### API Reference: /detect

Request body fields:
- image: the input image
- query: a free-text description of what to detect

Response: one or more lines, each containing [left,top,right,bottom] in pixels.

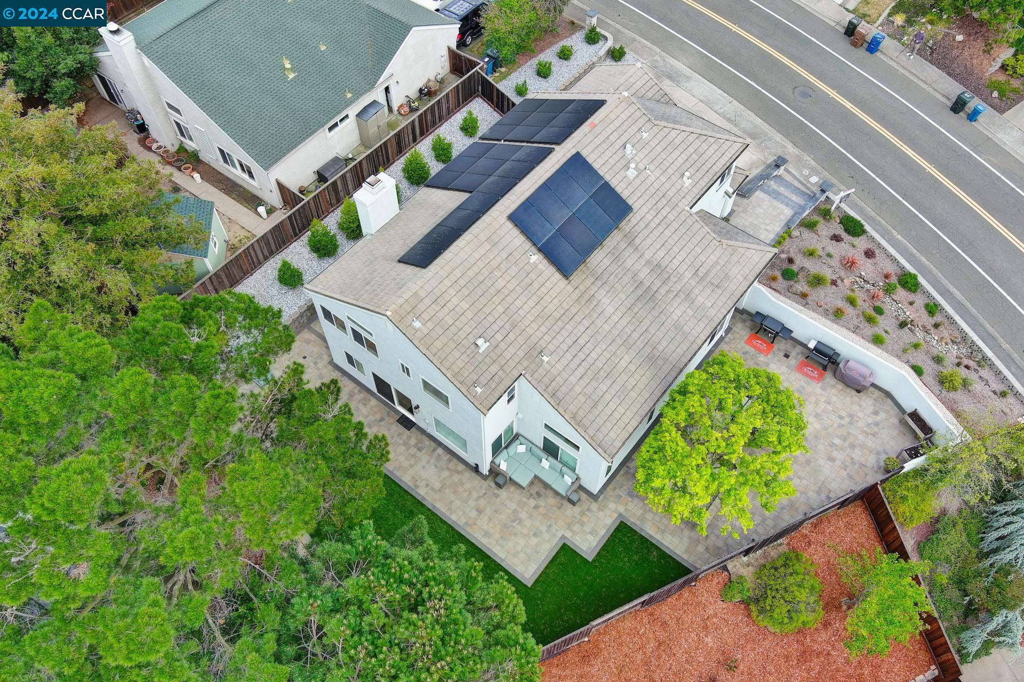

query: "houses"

[80,0,462,209]
[302,59,781,496]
